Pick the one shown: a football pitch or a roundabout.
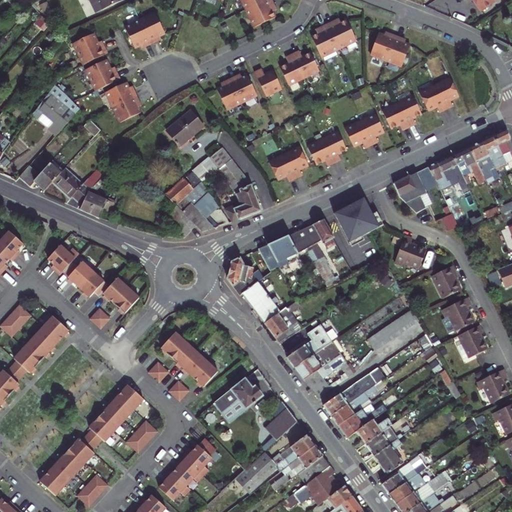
roundabout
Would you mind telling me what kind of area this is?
residential area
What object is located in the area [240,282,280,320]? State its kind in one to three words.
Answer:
building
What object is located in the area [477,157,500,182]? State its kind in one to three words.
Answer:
shed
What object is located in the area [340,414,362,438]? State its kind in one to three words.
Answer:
house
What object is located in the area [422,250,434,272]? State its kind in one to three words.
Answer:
vehicle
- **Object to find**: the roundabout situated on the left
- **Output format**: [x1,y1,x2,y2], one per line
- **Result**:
[150,242,219,310]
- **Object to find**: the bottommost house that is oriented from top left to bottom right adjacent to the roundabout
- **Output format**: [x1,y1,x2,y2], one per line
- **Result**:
[162,332,218,386]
